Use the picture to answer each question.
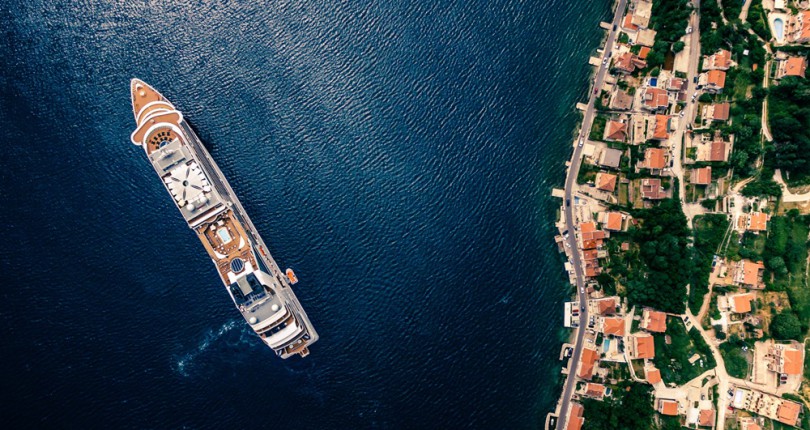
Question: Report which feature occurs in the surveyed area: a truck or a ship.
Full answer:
Looking from above, you can make out a ship.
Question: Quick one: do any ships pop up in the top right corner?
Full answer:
No, I see no ship in the top right corner.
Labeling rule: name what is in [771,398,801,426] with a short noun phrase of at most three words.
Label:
building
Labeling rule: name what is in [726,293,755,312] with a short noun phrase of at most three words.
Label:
house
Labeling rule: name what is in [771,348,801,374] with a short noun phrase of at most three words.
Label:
house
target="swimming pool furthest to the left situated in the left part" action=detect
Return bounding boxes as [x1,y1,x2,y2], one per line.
[215,228,232,246]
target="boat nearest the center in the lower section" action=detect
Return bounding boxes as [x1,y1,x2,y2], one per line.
[286,266,300,281]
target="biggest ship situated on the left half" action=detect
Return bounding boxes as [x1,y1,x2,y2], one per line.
[132,77,313,357]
